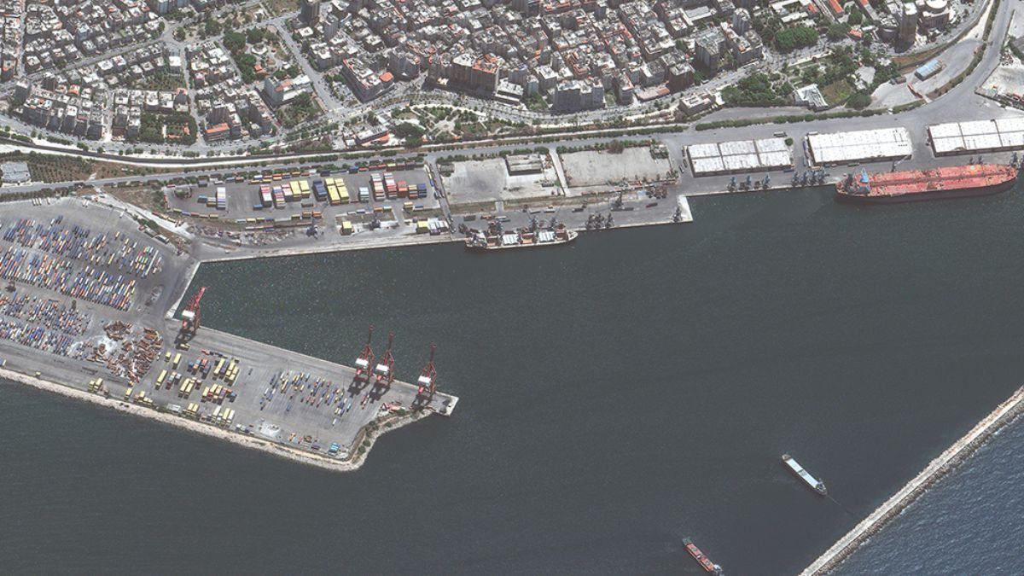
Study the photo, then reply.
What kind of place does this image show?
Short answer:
port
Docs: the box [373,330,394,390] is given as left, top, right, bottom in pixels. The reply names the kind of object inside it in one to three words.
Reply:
container crane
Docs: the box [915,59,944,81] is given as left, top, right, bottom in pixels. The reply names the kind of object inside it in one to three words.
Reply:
building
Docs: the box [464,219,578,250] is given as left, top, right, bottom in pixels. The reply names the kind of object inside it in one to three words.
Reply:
ship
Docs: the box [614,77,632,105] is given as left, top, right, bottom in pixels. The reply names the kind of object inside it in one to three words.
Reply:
building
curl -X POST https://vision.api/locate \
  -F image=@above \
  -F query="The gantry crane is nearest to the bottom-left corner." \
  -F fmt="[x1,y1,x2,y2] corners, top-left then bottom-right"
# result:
[179,284,204,336]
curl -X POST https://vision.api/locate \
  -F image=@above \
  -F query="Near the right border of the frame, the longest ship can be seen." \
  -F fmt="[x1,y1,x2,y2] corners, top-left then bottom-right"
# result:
[834,163,1018,203]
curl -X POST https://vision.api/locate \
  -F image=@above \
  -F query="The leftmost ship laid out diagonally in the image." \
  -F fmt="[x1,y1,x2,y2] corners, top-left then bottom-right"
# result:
[683,540,726,576]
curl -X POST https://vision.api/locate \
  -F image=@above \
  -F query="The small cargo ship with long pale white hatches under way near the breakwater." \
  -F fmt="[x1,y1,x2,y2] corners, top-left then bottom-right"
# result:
[781,454,829,499]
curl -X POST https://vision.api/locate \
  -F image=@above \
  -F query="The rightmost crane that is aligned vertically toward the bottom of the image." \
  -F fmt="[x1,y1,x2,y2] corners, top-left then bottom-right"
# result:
[415,342,436,402]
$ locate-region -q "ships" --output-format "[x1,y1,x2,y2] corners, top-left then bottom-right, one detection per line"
[781,454,829,499]
[464,219,578,250]
[683,540,726,576]
[834,163,1018,203]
